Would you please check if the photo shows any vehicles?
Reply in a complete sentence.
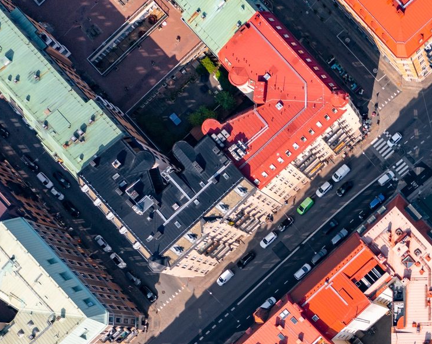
Yes, there's a vehicle here.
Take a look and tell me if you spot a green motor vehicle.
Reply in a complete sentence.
Yes, there's a green motor vehicle here.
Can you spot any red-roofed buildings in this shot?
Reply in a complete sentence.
Yes, there's a red-roofed building down there.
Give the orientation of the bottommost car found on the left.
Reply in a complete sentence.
The bottommost car found on the left has been laid out diagonally relative to the frame.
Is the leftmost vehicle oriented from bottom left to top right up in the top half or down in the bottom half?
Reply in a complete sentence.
It is in the bottom half that the leftmost vehicle oriented from bottom left to top right appears.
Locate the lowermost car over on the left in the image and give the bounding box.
[139,282,159,303]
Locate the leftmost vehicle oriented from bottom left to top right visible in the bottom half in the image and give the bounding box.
[215,265,237,289]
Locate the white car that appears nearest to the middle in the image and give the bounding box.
[260,230,278,249]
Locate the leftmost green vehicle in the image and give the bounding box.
[295,193,317,218]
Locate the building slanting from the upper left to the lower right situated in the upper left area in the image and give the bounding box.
[0,0,148,176]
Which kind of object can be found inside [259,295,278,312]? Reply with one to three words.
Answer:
car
